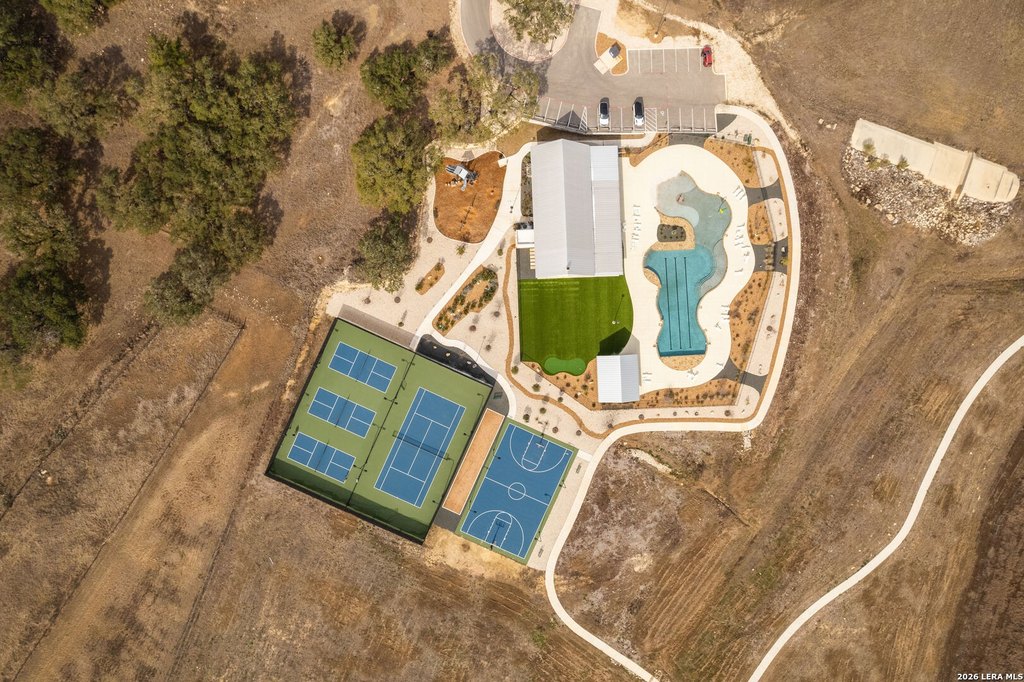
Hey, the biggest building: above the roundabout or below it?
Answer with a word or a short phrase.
below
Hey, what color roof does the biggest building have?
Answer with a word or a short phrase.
white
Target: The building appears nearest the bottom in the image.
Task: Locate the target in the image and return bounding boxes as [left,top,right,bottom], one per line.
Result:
[596,354,640,403]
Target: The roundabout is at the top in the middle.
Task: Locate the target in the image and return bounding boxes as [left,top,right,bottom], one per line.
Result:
[489,0,577,62]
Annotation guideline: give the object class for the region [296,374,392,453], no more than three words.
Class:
sports court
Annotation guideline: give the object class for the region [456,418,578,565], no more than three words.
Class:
basketball court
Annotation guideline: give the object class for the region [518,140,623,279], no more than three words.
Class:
building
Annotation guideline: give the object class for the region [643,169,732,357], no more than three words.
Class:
swimming pool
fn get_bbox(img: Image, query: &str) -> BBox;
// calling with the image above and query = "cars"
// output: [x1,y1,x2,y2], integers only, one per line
[702,45,712,67]
[634,103,644,126]
[599,103,610,126]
